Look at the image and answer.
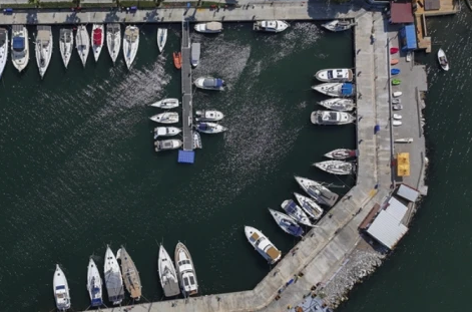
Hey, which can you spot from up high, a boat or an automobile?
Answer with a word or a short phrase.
boat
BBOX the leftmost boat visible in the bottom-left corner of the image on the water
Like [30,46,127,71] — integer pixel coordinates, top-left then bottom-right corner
[52,266,70,312]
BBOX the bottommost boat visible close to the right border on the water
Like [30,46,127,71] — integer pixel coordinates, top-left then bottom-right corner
[436,48,449,72]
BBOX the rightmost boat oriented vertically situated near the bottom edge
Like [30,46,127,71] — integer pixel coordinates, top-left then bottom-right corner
[174,242,203,304]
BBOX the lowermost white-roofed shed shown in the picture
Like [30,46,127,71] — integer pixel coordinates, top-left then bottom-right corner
[362,210,408,250]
